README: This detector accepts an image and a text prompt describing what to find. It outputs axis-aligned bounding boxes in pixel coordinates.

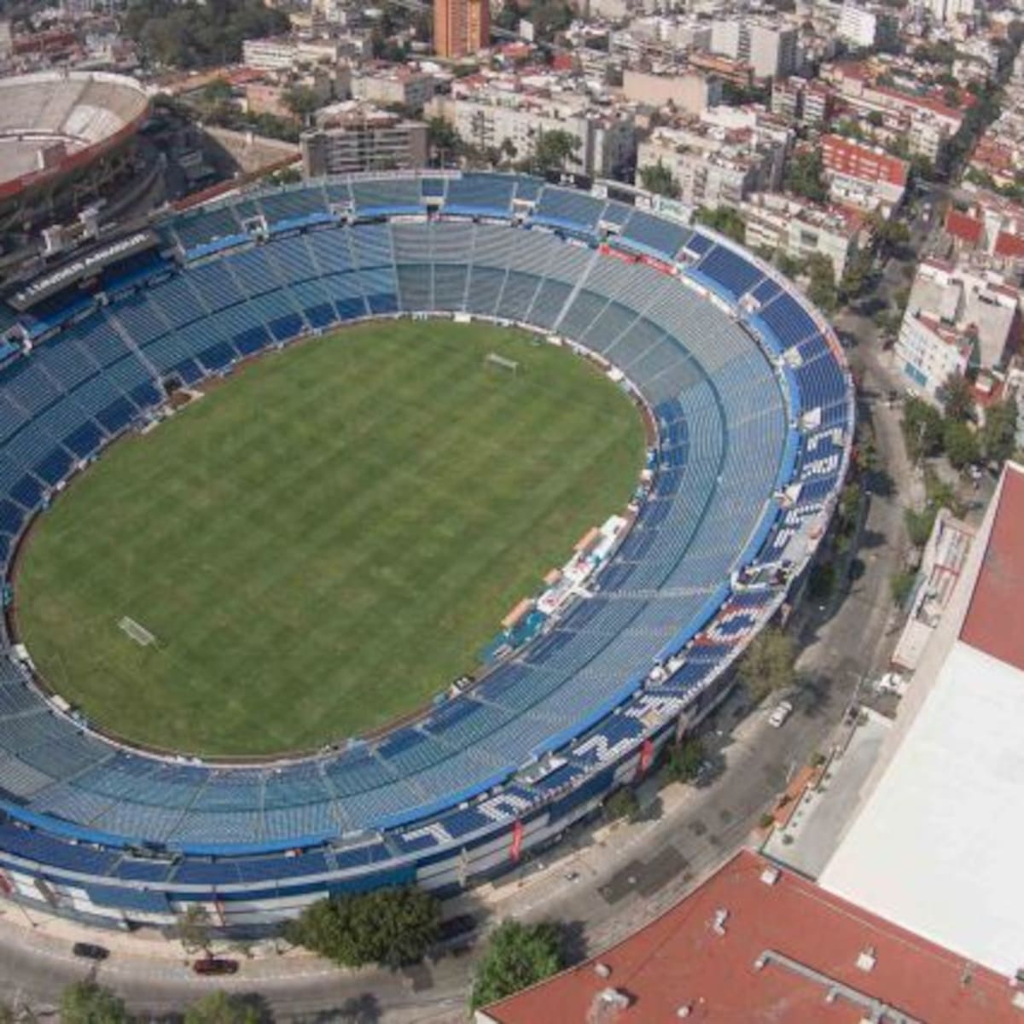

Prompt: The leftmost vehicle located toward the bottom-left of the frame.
[70,940,109,962]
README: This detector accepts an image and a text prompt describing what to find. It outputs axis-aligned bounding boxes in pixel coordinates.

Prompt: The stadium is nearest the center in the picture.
[0,176,848,937]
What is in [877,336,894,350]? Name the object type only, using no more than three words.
car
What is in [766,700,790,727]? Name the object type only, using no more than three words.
car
